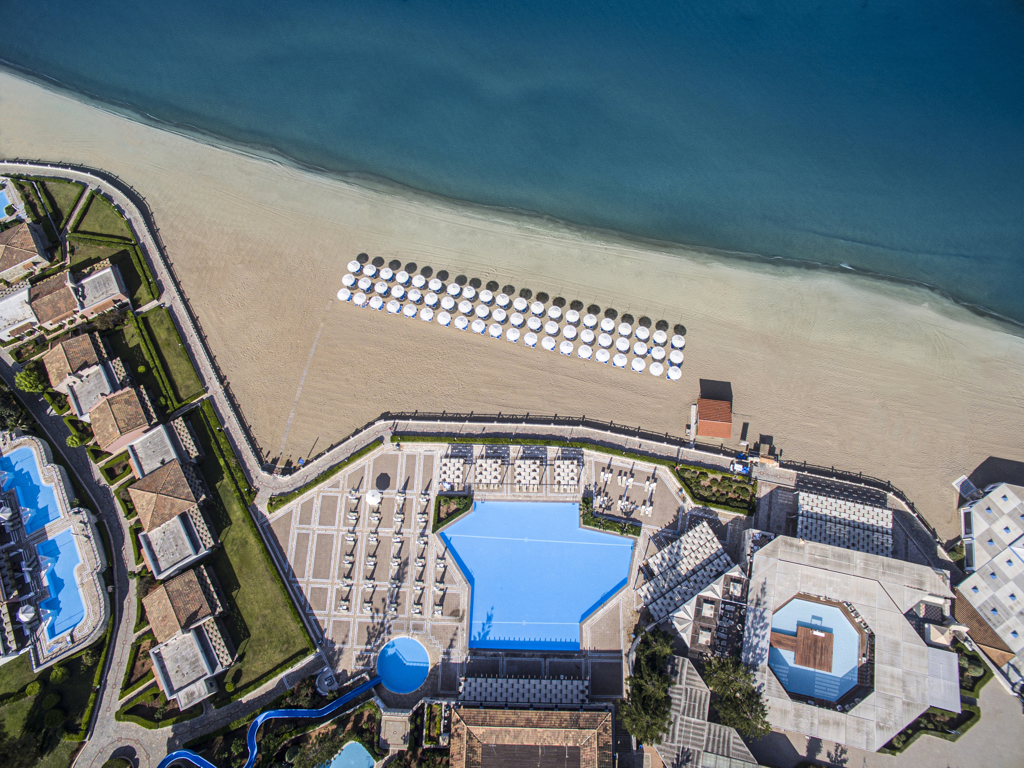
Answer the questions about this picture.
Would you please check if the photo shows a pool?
Yes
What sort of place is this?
beach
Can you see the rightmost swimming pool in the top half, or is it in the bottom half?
bottom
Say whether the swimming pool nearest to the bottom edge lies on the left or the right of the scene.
left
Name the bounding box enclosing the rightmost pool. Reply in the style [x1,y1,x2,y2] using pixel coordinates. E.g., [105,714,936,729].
[768,599,858,703]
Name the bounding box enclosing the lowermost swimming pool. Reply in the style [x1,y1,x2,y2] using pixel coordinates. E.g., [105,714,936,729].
[327,738,378,768]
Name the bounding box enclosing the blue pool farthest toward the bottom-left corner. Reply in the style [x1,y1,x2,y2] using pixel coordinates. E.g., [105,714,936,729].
[34,525,87,644]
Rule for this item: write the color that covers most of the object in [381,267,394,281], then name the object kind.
white umbrella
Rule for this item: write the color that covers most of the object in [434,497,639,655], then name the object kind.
blue swimming pool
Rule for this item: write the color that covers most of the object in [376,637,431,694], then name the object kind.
blue swimming pool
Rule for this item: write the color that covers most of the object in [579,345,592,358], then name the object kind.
white umbrella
